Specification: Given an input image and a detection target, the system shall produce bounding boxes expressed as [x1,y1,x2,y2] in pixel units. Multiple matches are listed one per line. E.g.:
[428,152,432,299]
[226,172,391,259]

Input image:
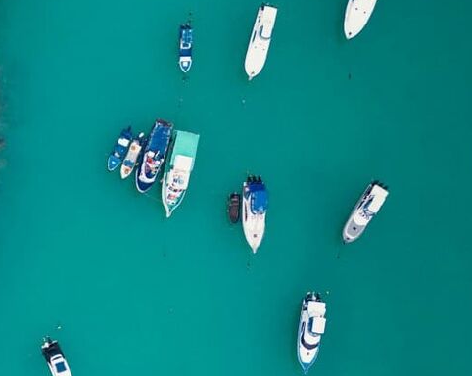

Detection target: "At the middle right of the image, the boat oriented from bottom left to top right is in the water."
[342,180,393,244]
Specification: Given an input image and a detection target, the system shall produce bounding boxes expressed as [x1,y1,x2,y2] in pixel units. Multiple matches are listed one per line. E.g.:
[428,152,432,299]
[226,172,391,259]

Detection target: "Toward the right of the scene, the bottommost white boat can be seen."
[298,295,327,376]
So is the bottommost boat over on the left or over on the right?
left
